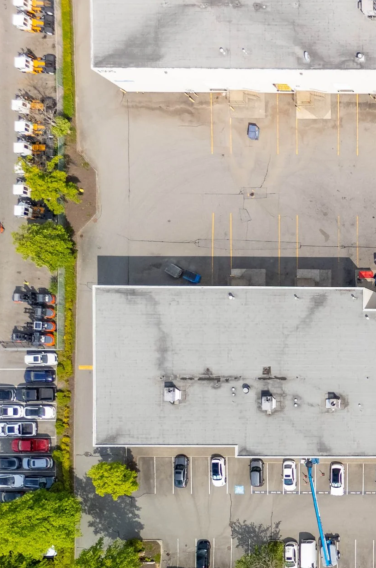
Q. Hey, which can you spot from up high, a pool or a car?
car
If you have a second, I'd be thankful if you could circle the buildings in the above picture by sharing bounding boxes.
[91,0,376,94]
[92,285,376,458]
